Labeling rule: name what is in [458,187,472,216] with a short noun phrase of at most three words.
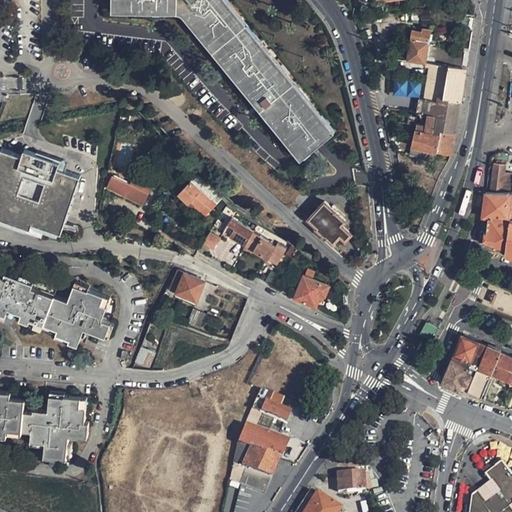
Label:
vehicle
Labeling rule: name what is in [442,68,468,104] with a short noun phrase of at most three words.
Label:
building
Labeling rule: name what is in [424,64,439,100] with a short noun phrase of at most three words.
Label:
shed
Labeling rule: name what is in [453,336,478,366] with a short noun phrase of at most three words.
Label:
house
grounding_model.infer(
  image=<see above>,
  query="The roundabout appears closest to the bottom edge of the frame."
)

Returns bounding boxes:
[370,273,413,345]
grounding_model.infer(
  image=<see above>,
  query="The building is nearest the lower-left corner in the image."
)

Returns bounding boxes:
[0,392,92,464]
